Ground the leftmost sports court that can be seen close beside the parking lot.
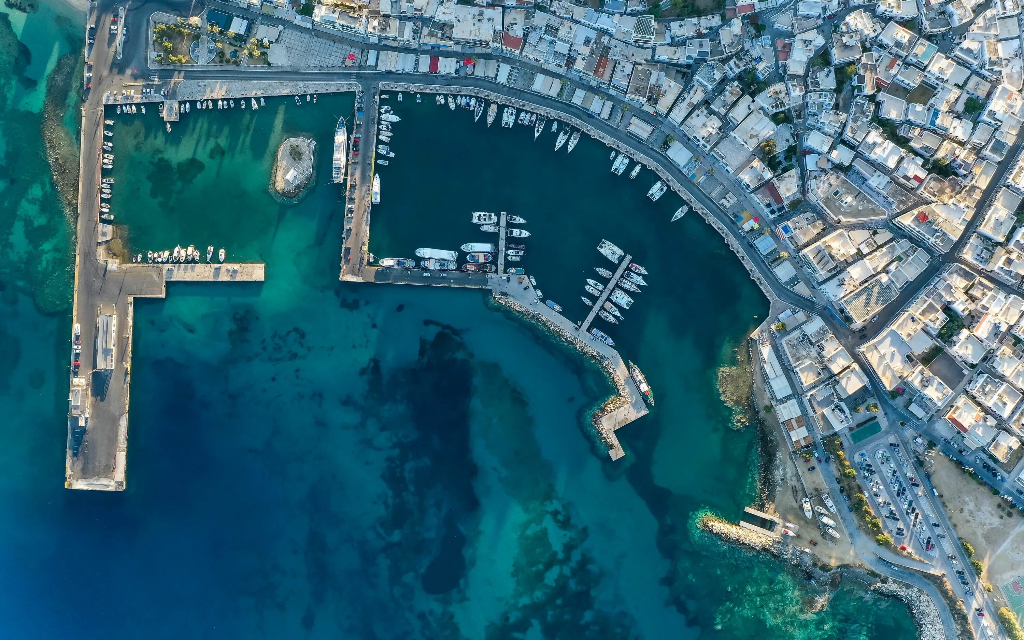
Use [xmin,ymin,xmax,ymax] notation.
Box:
[846,420,887,449]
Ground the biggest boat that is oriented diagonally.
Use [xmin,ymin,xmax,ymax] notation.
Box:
[629,362,657,403]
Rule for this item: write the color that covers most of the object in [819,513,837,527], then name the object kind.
white boat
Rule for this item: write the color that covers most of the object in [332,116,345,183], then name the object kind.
white ship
